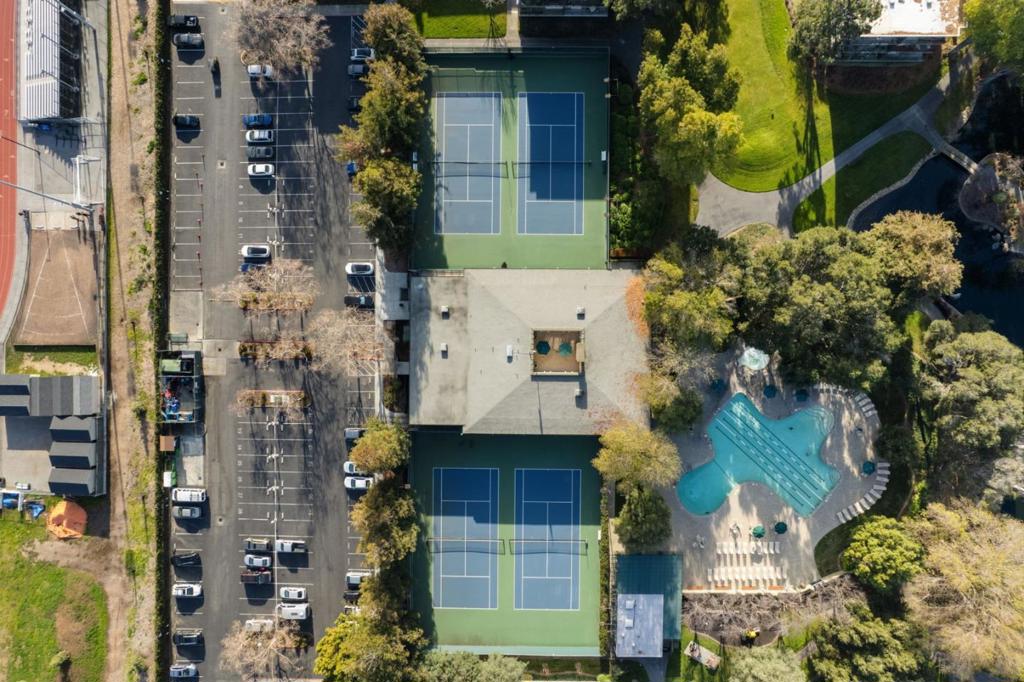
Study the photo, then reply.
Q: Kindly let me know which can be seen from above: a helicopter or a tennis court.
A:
tennis court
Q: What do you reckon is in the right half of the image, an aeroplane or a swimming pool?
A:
swimming pool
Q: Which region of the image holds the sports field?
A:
left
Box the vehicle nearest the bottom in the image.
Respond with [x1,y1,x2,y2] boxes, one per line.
[170,663,201,679]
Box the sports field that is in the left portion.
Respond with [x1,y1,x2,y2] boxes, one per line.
[14,209,97,345]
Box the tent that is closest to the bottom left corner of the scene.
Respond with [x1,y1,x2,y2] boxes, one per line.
[49,501,87,537]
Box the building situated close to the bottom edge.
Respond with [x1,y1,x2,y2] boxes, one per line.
[613,550,683,657]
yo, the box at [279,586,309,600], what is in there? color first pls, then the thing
white car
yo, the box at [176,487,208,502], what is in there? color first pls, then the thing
white vehicle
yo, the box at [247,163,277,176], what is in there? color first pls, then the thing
white vehicle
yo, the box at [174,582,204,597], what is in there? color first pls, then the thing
white car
